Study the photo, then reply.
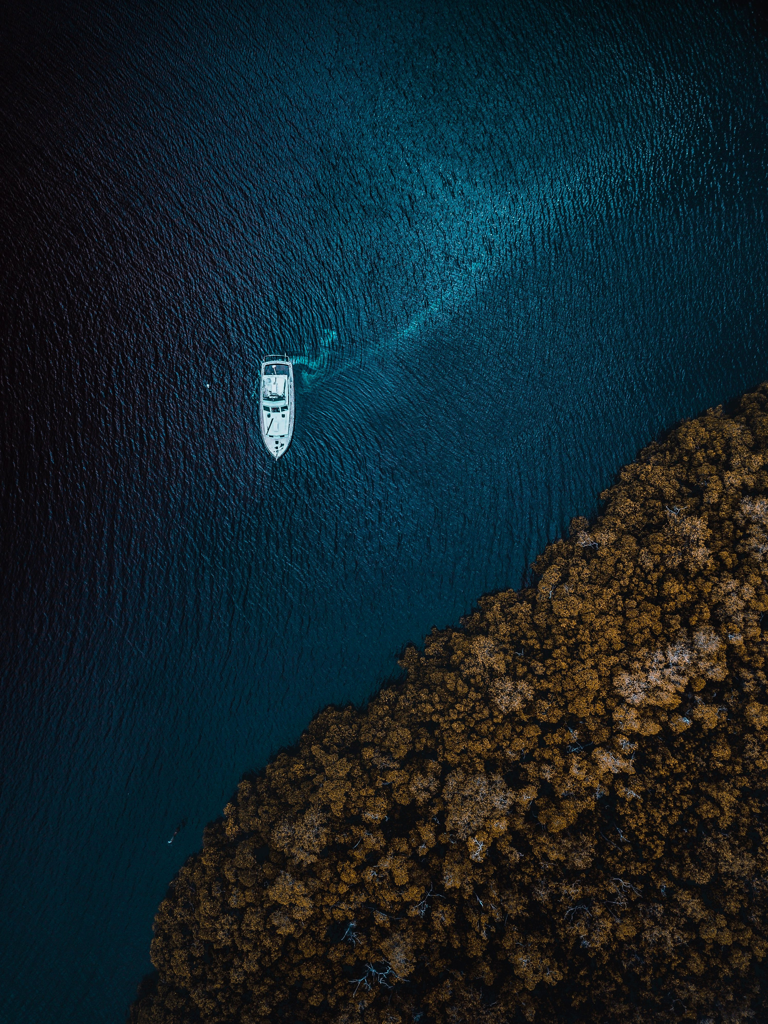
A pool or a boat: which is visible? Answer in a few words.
boat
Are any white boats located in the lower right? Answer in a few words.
No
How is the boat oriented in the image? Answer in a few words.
up and down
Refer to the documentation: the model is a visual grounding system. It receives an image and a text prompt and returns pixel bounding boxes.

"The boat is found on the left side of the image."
[259,353,296,461]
